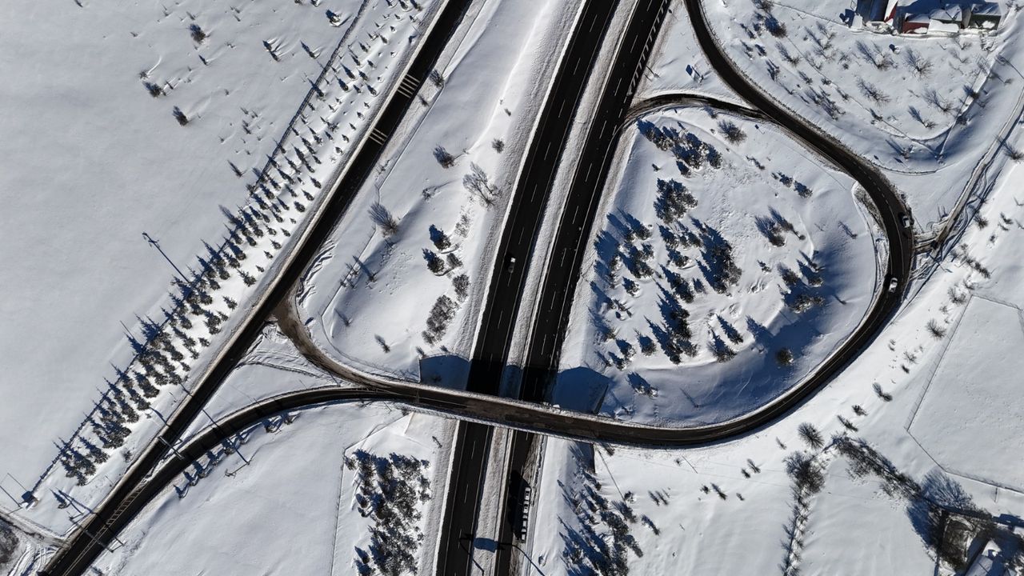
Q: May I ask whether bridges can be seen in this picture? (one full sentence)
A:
Yes, there is a bridge in the image.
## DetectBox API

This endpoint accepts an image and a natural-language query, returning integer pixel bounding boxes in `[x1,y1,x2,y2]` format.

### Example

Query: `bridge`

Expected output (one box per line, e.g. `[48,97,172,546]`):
[395,357,609,475]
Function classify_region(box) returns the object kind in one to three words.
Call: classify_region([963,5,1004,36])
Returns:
barn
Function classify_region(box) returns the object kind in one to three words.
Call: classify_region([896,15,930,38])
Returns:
shed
